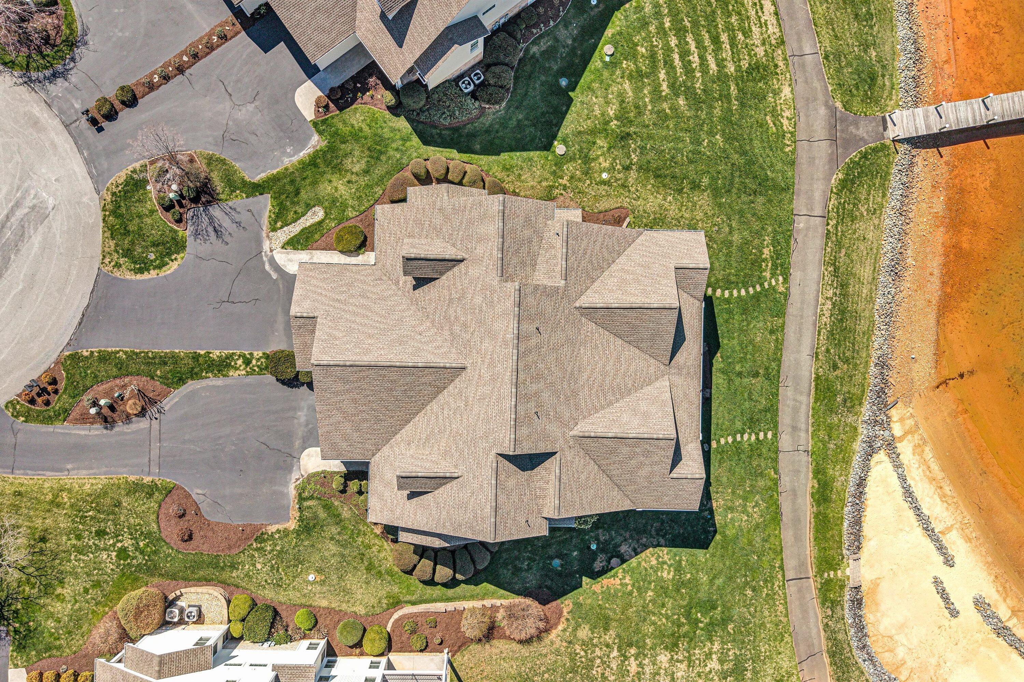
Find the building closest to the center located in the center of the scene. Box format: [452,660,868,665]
[289,184,710,547]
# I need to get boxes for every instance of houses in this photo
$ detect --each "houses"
[94,627,451,682]
[232,0,547,95]
[289,184,710,547]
